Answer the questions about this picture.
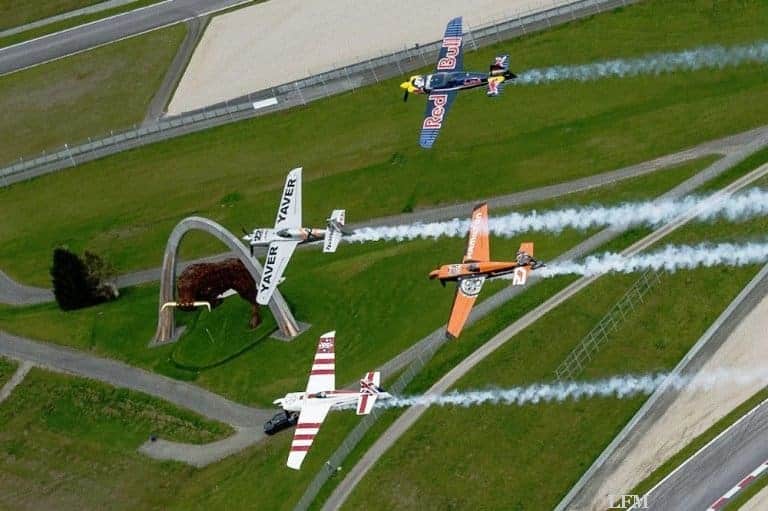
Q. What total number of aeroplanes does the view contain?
4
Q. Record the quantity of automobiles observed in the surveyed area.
1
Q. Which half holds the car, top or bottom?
bottom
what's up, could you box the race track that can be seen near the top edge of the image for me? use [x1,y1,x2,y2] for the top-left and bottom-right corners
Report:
[0,0,254,75]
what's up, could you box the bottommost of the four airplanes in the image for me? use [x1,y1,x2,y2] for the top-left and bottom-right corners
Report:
[270,334,386,467]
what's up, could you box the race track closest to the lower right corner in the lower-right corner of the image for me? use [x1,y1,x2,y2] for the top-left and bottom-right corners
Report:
[627,399,768,511]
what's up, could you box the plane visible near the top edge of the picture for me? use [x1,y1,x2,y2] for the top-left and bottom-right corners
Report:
[399,20,516,149]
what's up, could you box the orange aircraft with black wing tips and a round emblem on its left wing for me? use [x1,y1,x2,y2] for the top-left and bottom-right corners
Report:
[427,206,545,338]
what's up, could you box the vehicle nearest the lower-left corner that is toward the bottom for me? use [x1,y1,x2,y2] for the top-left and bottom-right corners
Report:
[260,407,302,431]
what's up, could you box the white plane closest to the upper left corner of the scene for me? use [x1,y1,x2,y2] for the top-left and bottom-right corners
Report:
[238,169,351,305]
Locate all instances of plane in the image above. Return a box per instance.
[427,206,545,338]
[238,169,351,305]
[399,20,516,149]
[270,334,386,467]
